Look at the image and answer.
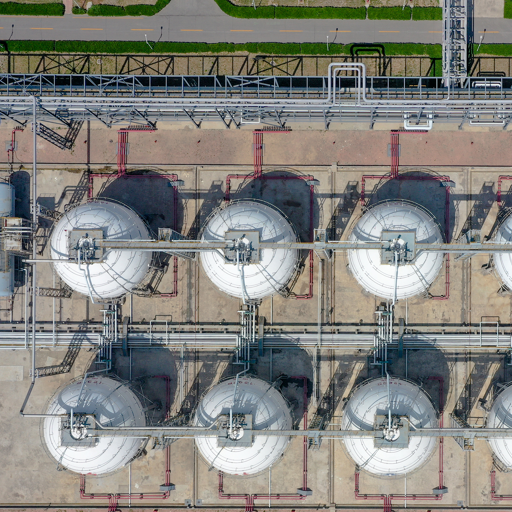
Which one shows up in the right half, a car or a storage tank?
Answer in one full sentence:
It is a storage tank that can be seen in the right half.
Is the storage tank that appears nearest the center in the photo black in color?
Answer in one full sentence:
No, from above the storage tank that appears nearest the center looks white.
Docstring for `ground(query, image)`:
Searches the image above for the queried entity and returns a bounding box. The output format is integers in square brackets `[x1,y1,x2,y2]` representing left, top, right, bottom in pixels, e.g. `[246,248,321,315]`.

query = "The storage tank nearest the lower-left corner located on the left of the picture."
[39,370,162,478]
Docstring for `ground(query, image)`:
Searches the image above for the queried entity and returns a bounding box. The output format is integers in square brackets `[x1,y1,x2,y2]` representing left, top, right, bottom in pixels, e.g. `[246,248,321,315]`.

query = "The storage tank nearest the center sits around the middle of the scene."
[196,198,305,304]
